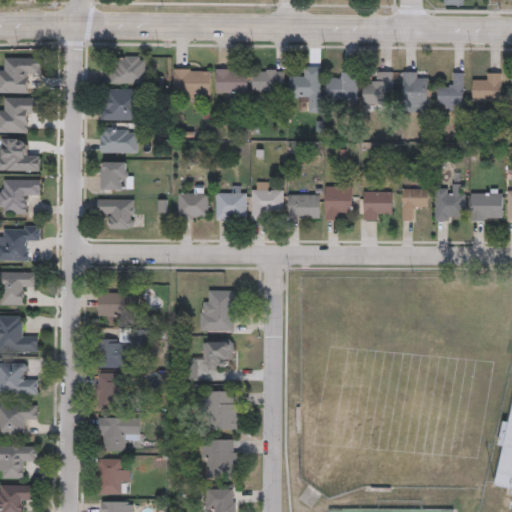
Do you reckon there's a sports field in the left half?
No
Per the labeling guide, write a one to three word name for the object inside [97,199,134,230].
house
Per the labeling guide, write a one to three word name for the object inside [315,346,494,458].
sports field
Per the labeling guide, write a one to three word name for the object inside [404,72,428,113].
house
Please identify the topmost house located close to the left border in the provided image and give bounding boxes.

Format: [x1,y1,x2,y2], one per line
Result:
[0,57,40,92]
